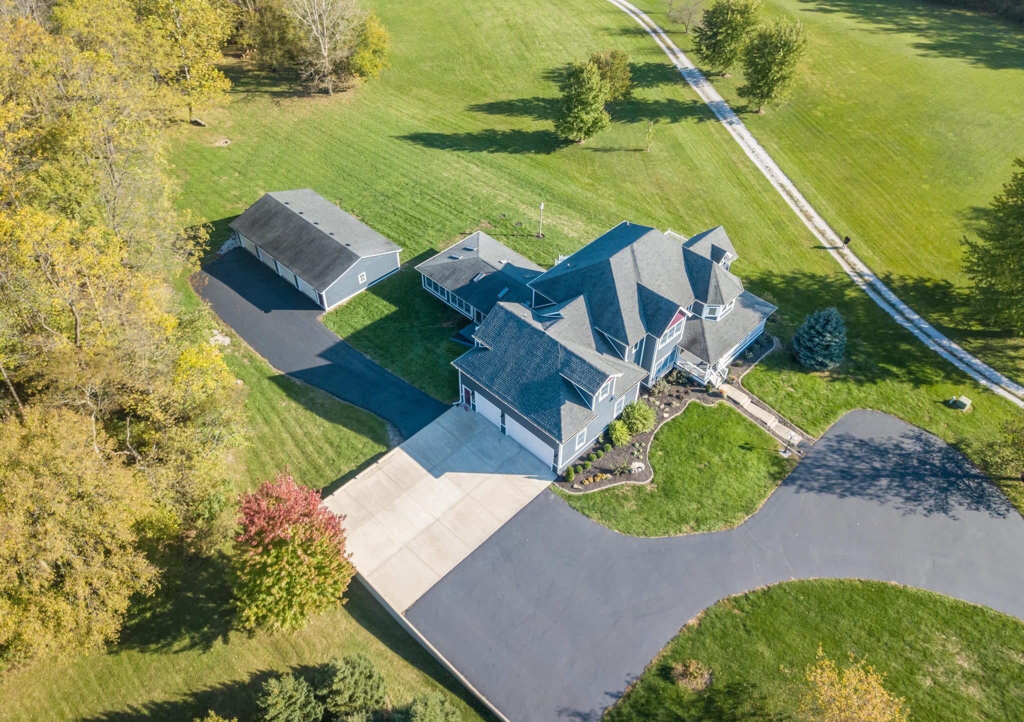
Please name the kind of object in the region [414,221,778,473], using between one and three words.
house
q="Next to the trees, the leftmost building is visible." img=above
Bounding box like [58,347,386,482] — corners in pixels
[233,191,403,311]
